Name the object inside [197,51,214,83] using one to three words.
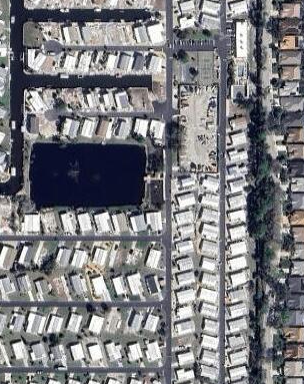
tennis court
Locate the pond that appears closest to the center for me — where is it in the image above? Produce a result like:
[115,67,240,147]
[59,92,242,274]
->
[29,143,147,206]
